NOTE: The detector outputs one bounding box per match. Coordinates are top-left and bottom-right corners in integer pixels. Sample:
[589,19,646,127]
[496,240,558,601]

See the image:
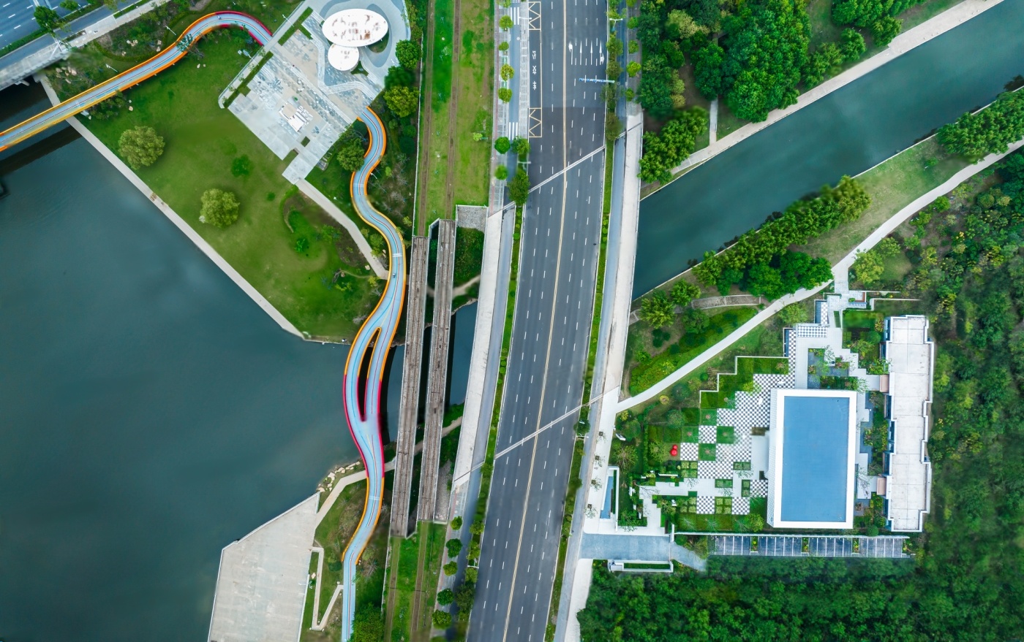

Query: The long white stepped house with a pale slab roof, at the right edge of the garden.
[878,315,933,532]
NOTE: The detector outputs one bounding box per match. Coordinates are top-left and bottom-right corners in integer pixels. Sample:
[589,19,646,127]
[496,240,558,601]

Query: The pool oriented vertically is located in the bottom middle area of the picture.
[600,475,614,520]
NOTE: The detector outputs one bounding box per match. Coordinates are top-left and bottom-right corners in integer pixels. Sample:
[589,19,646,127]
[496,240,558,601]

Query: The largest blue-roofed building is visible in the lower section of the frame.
[766,387,856,529]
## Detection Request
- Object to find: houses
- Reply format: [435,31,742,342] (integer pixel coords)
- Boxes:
[878,315,933,532]
[766,387,856,529]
